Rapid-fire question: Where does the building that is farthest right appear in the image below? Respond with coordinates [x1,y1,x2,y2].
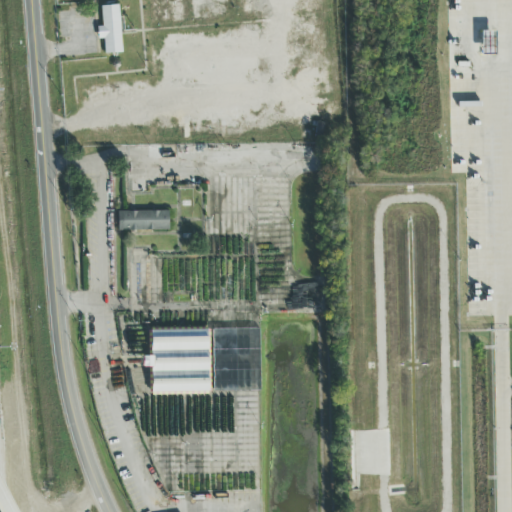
[214,328,260,388]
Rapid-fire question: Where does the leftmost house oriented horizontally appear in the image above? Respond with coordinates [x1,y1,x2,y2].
[119,210,170,234]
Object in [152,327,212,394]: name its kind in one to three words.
greenhouse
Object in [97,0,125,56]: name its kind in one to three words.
building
